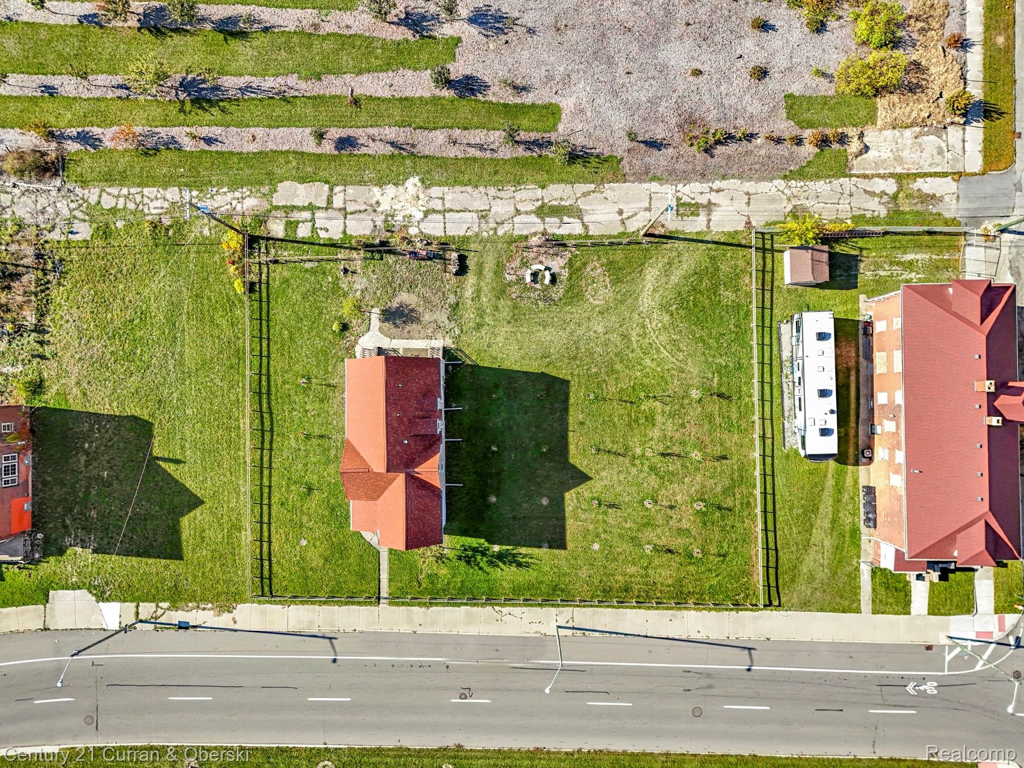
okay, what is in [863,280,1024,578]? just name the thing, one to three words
house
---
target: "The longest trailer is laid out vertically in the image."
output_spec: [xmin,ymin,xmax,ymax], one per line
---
[787,306,837,468]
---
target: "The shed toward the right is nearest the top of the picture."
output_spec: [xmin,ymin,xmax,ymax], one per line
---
[784,245,829,285]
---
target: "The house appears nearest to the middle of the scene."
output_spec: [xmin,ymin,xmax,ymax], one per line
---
[339,356,465,551]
